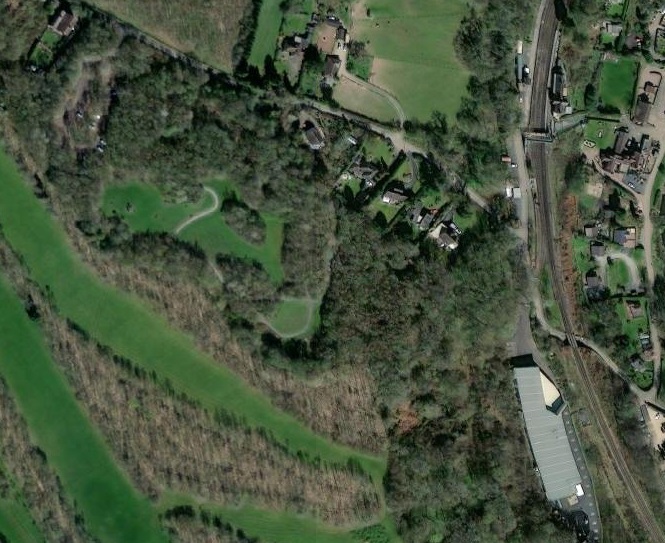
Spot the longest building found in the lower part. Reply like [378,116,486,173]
[514,367,581,501]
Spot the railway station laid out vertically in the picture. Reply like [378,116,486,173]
[527,0,557,128]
